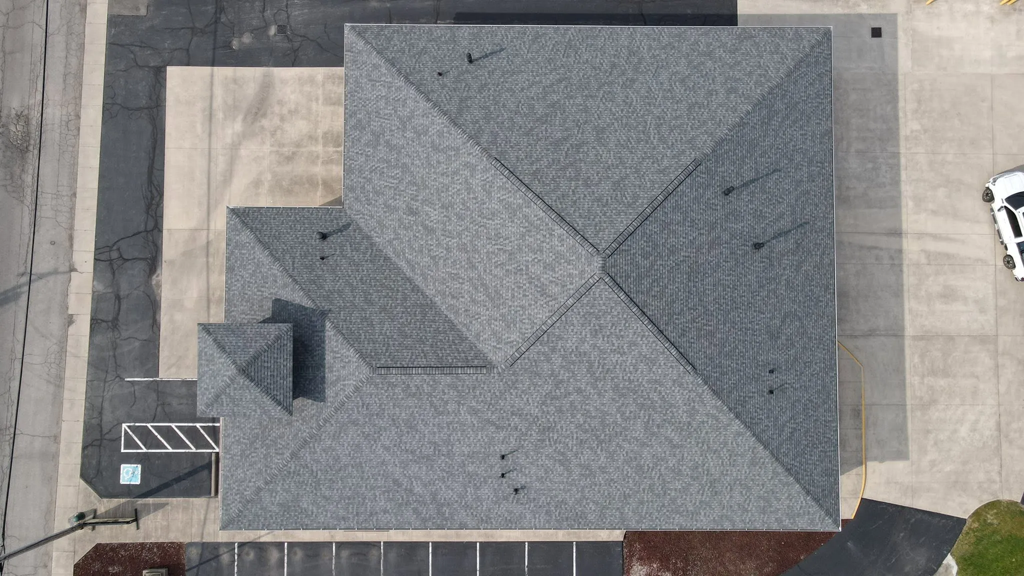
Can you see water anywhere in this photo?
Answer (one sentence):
No, water can't be seen anywhere here.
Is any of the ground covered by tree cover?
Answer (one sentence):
No, there's no tree cover in this view.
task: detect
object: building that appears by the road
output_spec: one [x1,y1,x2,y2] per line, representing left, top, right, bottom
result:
[195,25,842,531]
